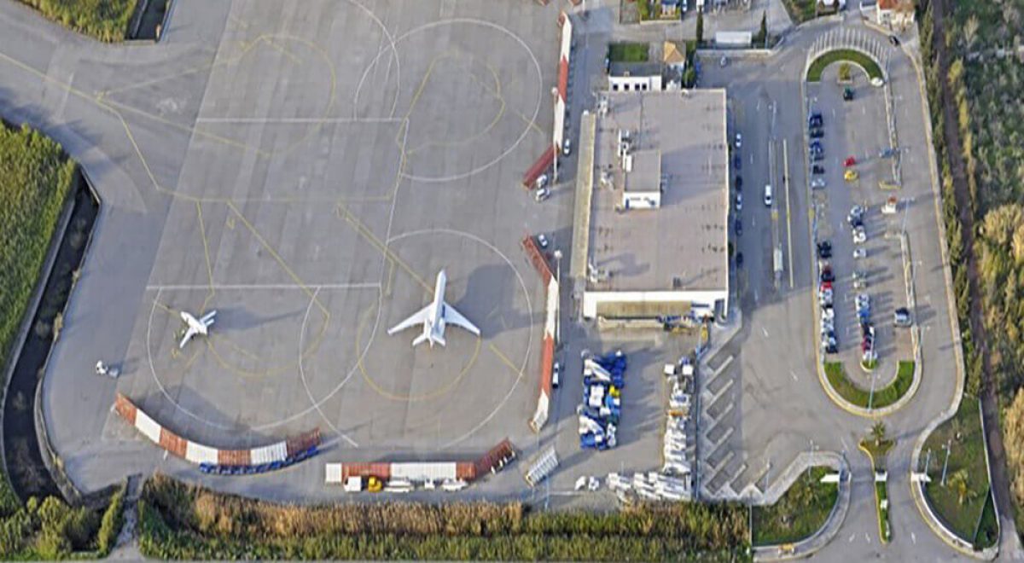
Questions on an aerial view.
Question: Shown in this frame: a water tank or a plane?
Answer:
plane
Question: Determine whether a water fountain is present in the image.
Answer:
No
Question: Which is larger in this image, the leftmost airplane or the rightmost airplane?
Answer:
the rightmost airplane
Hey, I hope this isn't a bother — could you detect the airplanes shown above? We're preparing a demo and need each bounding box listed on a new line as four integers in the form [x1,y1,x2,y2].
[385,271,481,345]
[173,312,219,345]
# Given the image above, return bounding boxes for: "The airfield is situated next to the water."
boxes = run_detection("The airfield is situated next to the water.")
[0,0,727,509]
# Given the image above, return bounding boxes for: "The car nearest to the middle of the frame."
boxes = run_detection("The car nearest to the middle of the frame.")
[537,236,549,248]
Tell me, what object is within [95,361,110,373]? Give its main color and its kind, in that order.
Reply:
white vehicle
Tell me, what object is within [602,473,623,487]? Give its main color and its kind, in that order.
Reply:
white vehicle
